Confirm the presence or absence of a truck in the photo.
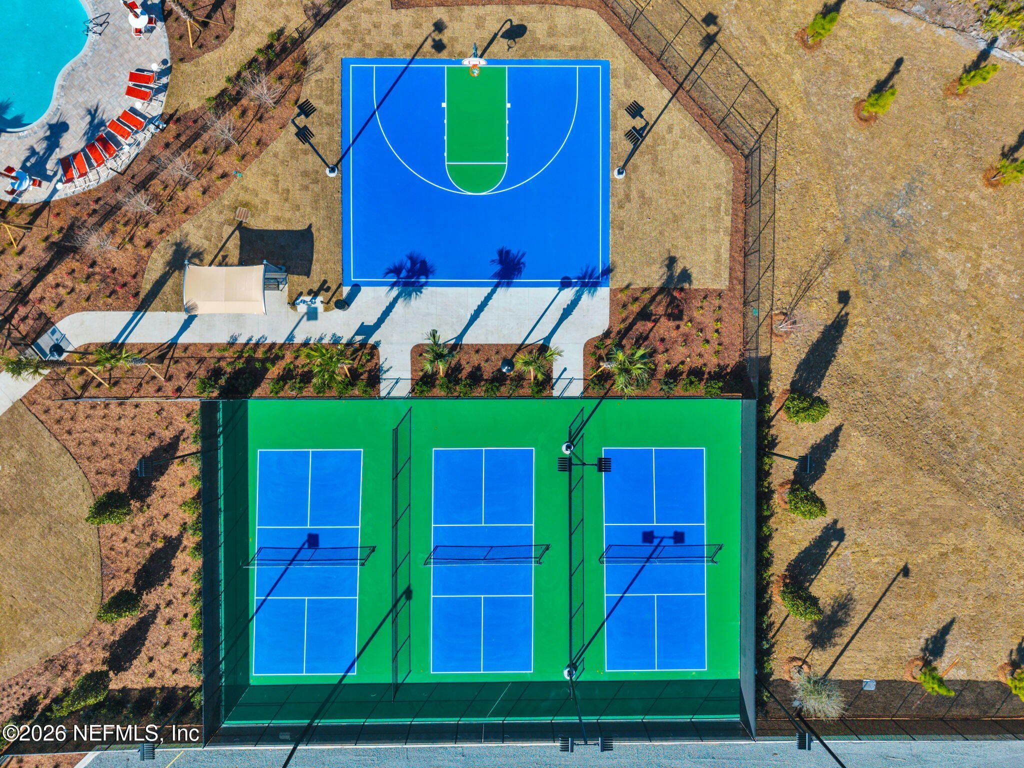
No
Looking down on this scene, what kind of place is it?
sports ground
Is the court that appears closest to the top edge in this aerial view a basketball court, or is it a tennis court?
basketball court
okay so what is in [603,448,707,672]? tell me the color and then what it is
blue sports court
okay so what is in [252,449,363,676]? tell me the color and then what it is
blue sports court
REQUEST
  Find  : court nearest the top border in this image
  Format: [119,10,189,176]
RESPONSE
[342,57,610,287]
